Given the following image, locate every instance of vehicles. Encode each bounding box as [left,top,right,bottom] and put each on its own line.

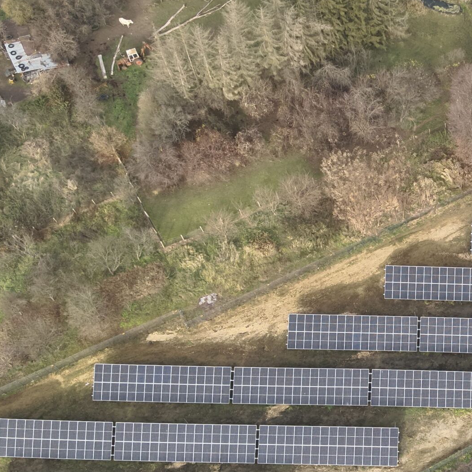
[110,47,150,71]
